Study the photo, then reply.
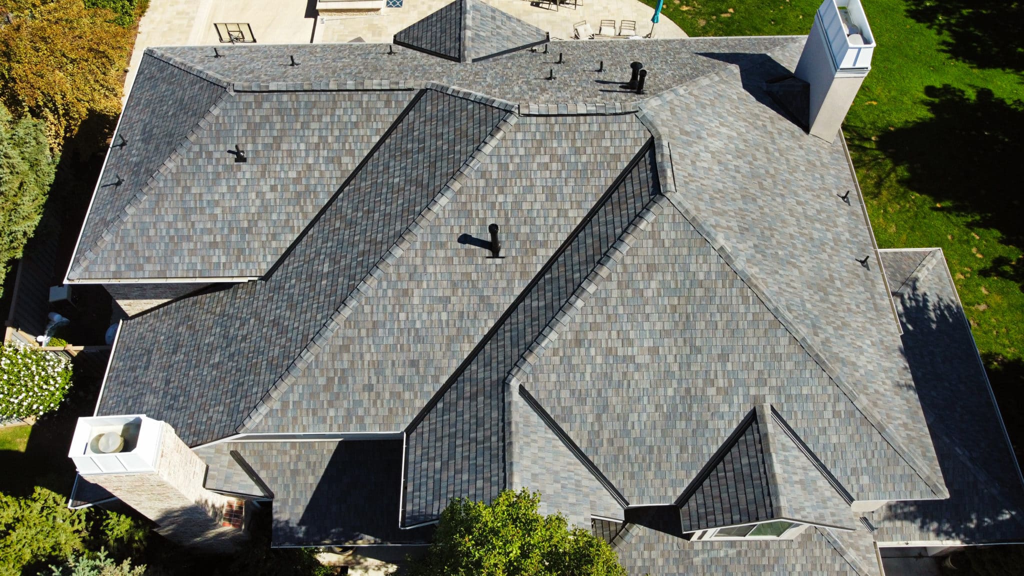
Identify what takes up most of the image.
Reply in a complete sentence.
Most of the picture is covered by buildings.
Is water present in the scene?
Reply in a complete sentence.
No, there is no water in the image.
